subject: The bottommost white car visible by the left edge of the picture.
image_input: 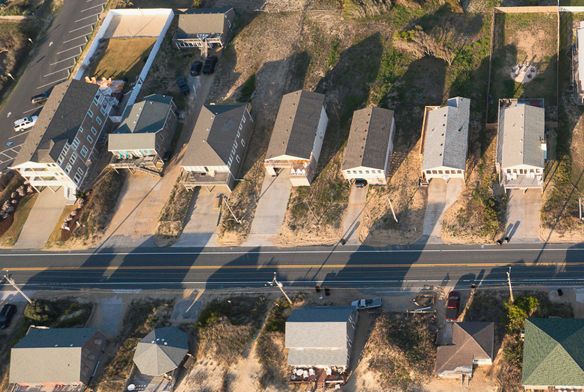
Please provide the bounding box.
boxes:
[11,116,33,133]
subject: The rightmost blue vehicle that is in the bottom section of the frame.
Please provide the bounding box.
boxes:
[355,295,383,310]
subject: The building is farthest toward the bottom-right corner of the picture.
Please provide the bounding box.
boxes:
[522,318,584,392]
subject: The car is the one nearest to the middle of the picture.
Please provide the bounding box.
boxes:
[354,178,367,191]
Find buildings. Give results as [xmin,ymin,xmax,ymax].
[174,6,238,71]
[109,90,182,186]
[178,105,259,202]
[285,295,361,392]
[417,92,471,187]
[265,90,331,186]
[494,102,545,202]
[120,322,200,392]
[9,38,124,214]
[434,322,494,384]
[569,19,584,111]
[522,318,584,392]
[341,107,397,187]
[2,312,118,392]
